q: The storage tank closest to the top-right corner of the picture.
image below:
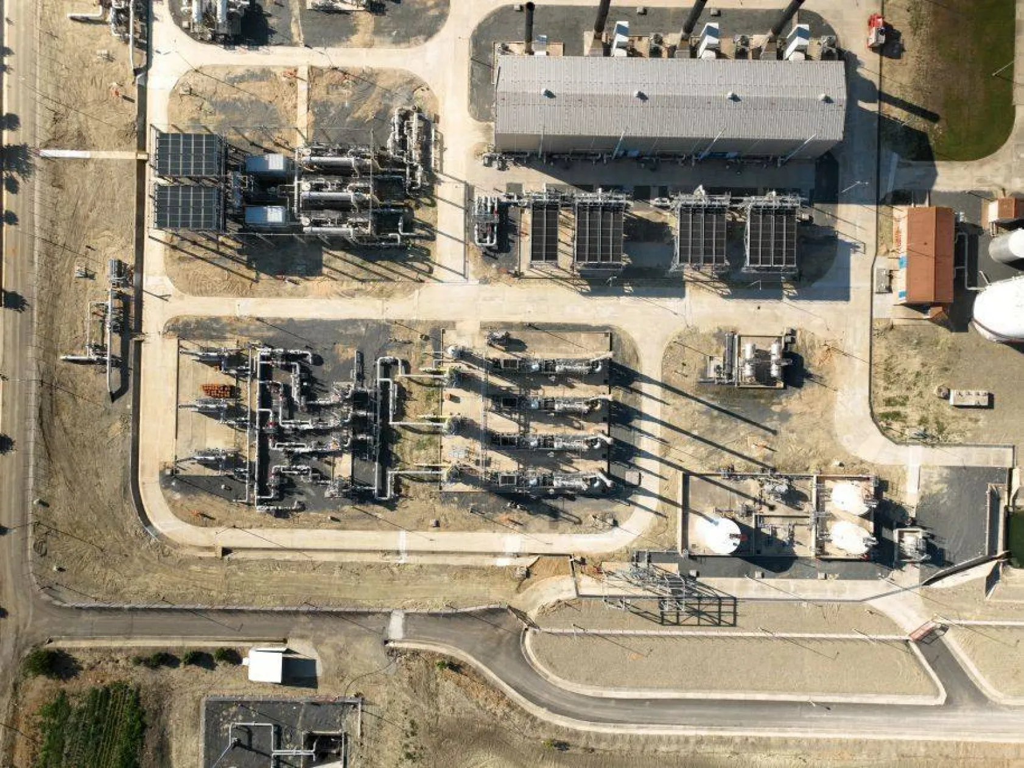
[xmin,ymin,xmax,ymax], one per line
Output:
[990,227,1024,262]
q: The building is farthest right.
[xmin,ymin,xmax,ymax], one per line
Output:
[990,196,1024,226]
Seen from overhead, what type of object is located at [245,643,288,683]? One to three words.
shed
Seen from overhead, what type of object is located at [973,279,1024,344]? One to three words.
storage tank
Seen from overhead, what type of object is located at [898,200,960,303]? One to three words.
building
